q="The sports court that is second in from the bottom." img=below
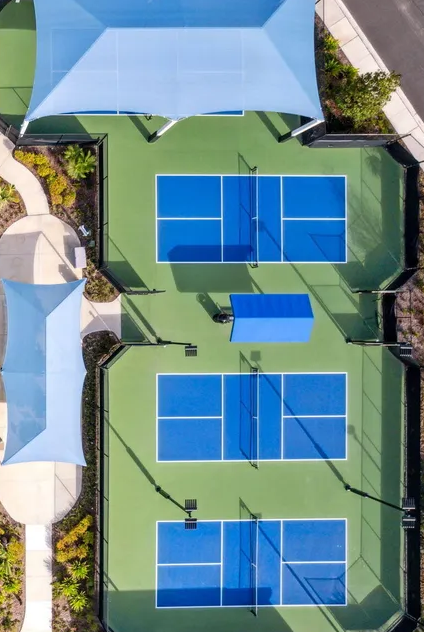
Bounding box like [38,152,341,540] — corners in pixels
[106,317,404,489]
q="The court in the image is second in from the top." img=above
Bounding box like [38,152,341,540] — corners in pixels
[104,146,403,317]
